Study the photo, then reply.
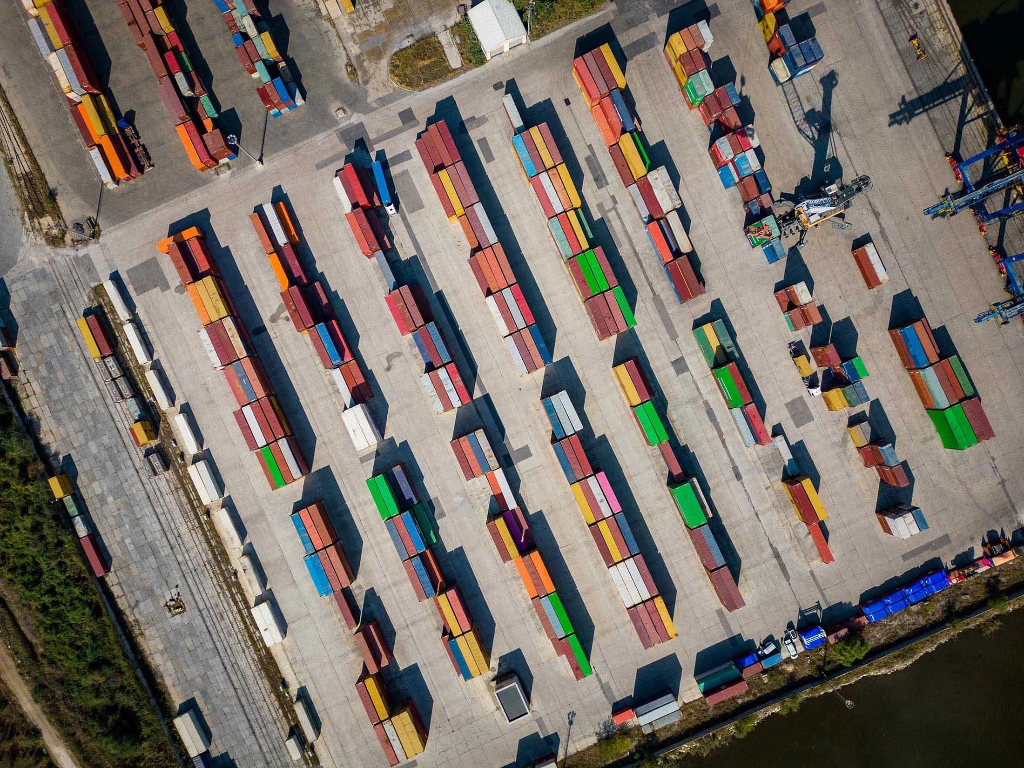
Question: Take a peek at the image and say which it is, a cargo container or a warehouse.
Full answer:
There is a cargo container in the scene.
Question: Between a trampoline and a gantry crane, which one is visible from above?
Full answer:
It is a gantry crane that can be seen here.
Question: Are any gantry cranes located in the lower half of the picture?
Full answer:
No, no gantry crane is visible in the lower half of the picture.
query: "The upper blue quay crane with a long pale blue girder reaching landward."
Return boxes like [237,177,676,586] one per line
[920,130,1024,237]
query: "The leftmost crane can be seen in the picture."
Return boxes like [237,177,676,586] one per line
[764,178,874,247]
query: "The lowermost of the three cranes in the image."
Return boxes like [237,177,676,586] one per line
[970,246,1024,326]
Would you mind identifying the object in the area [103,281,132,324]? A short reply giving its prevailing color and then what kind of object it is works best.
white shipping container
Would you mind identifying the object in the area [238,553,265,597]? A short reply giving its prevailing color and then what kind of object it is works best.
white shipping container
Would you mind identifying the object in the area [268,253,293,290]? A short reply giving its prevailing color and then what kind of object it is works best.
orange shipping container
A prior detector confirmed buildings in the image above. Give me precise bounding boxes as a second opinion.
[468,0,528,57]
[495,676,530,724]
